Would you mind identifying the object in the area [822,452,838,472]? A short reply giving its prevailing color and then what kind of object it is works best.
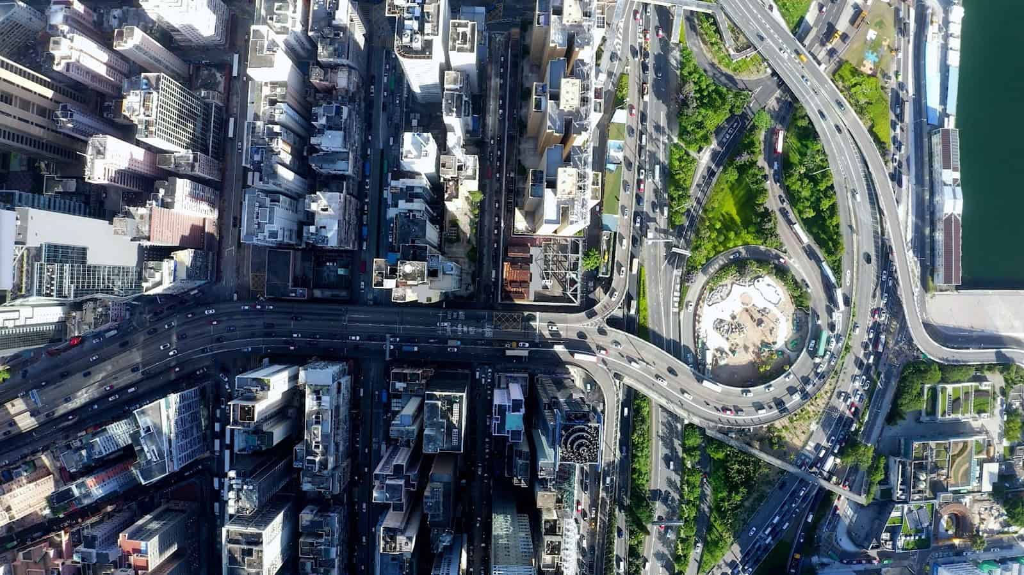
white vehicle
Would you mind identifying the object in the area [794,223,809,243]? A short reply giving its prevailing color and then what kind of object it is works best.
white vehicle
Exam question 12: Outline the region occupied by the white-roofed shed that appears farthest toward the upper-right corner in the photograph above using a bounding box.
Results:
[941,5,963,68]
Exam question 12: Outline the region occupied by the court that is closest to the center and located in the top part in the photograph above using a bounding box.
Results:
[603,168,620,214]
